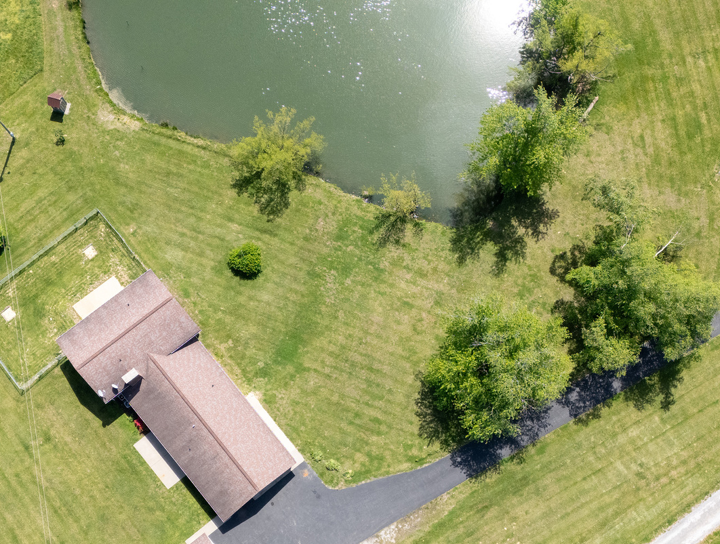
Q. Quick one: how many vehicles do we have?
zero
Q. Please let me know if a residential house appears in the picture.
Yes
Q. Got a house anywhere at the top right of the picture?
No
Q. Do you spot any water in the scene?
Yes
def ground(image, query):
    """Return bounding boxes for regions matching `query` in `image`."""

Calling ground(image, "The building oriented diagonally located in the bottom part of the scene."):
[57,268,296,524]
